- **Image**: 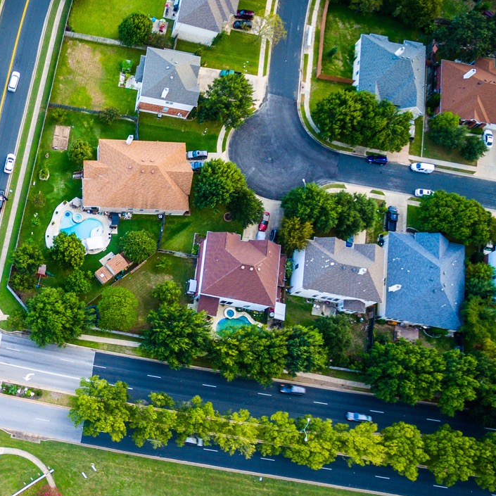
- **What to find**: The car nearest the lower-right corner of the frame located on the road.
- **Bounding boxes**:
[345,410,371,422]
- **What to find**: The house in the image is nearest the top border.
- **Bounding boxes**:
[174,0,239,45]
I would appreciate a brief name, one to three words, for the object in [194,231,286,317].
house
